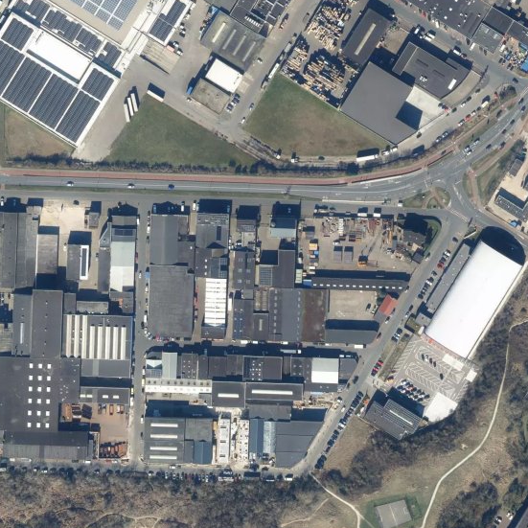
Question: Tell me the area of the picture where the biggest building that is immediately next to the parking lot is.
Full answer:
The biggest building that is immediately next to the parking lot appears toward the right of the photo.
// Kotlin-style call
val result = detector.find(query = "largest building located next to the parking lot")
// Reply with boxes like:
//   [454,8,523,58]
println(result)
[424,239,523,359]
